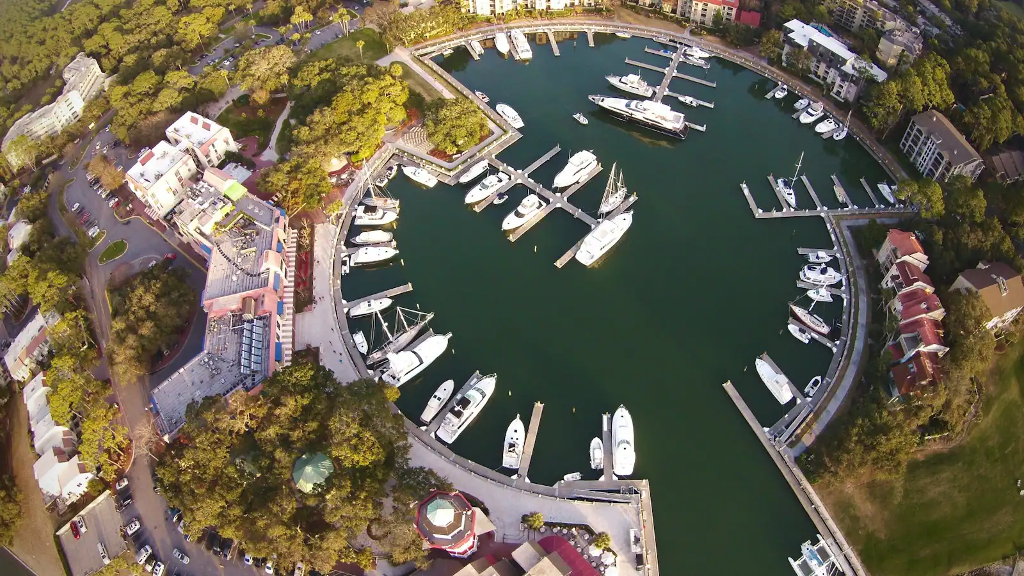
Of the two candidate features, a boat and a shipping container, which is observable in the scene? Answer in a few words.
boat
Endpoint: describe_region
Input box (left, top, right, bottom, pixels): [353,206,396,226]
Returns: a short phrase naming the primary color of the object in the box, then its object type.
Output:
white boat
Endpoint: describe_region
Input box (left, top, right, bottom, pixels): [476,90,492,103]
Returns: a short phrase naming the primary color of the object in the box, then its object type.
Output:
white boat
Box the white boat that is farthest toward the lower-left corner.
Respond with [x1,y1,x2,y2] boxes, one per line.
[353,330,367,353]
